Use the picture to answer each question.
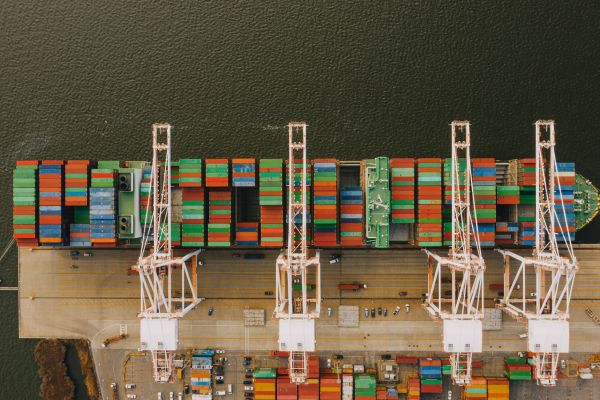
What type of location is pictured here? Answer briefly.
port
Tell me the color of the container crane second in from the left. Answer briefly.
white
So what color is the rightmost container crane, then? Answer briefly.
white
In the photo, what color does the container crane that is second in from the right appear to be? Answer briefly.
white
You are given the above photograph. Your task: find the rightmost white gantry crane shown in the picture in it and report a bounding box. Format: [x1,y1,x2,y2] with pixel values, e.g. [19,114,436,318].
[489,122,582,382]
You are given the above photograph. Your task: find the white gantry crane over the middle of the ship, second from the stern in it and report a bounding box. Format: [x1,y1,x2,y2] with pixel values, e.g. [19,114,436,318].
[272,122,324,382]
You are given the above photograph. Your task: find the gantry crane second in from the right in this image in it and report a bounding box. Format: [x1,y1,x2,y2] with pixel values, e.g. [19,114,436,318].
[415,122,490,382]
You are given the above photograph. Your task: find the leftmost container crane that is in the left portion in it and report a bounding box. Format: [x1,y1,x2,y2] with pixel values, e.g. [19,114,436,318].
[135,122,204,382]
